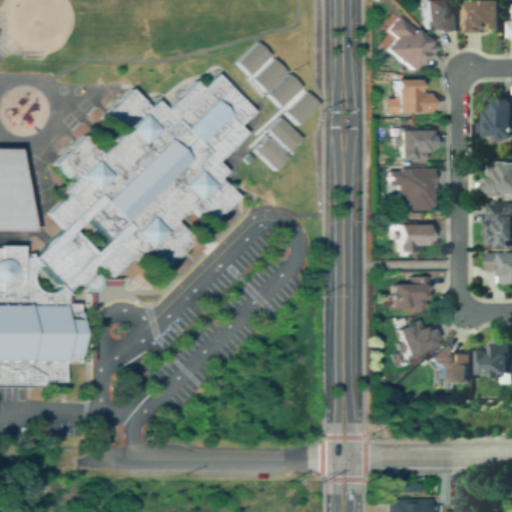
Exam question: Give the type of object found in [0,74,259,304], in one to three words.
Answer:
building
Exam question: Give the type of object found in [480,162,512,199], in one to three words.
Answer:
house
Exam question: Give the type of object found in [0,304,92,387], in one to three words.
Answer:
building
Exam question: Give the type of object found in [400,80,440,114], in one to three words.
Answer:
house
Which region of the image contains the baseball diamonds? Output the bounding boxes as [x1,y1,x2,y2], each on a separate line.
[0,0,296,70]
